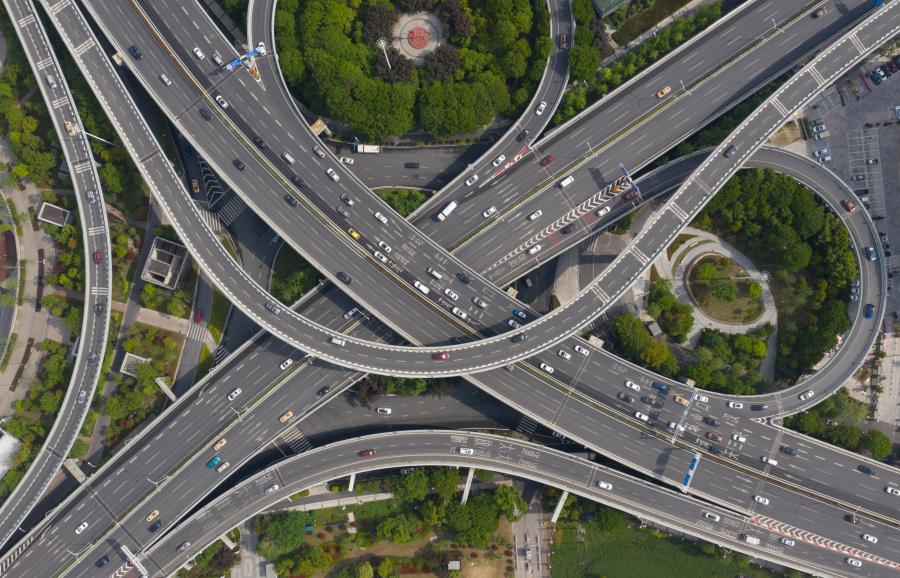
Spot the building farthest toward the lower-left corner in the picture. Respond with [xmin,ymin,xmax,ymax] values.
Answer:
[0,426,32,488]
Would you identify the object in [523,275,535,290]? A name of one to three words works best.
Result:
vehicle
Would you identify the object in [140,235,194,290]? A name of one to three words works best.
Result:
building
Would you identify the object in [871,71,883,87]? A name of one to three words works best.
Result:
vehicle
